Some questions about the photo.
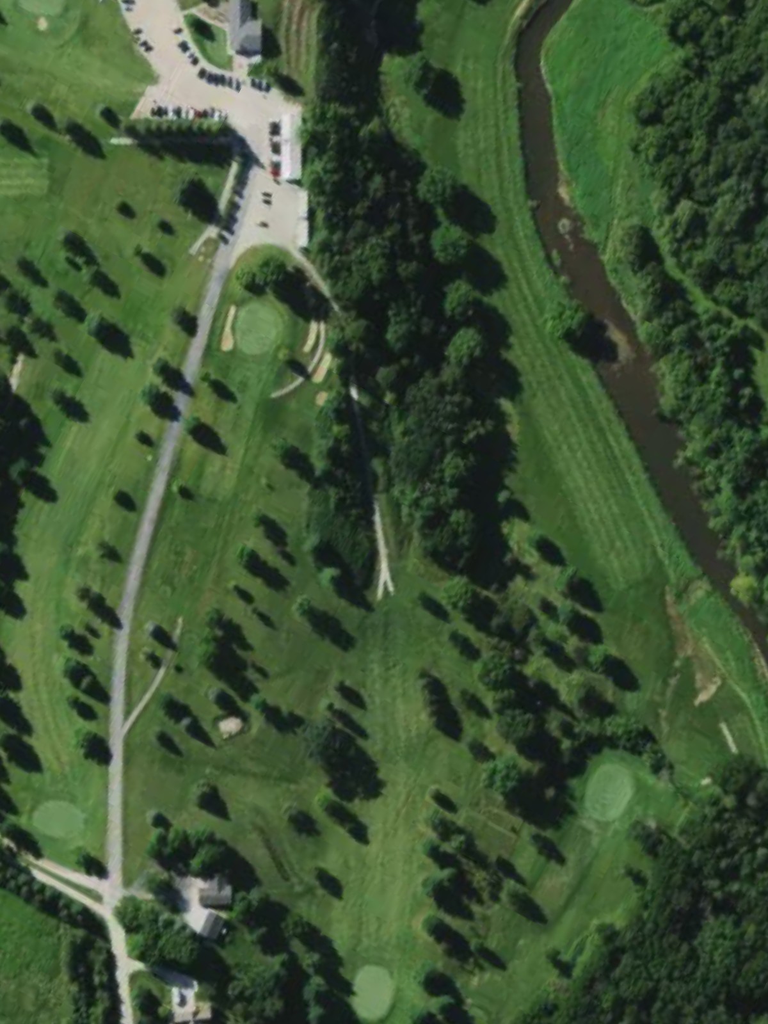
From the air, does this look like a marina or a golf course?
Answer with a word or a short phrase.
golf course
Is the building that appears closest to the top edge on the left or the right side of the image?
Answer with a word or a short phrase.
left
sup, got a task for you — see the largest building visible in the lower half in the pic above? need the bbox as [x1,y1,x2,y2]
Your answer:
[199,878,232,907]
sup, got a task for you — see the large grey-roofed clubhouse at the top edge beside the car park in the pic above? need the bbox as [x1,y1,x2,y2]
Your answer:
[228,0,262,52]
